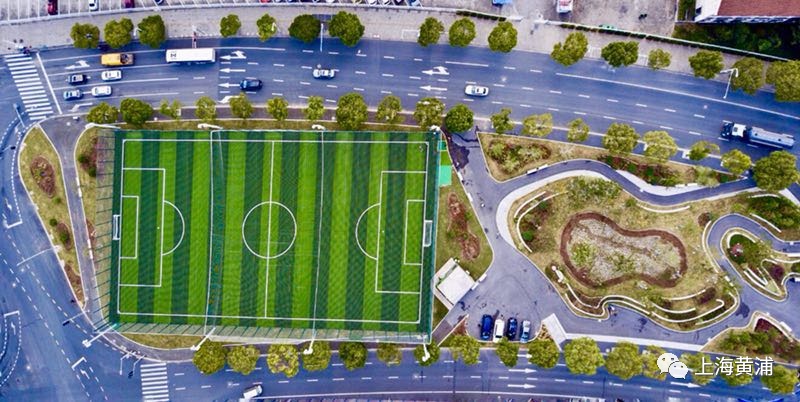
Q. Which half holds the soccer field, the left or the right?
left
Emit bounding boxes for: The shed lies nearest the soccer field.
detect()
[438,264,474,301]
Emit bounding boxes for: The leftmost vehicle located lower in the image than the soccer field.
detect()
[241,383,265,400]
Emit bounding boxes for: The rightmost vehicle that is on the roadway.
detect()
[719,123,797,149]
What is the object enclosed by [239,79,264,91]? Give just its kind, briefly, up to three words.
vehicle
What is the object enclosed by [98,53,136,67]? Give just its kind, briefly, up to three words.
vehicle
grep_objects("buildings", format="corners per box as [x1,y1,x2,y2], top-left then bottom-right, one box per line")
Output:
[438,264,474,301]
[701,0,800,20]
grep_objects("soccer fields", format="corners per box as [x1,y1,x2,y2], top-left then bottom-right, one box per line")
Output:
[109,130,440,334]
